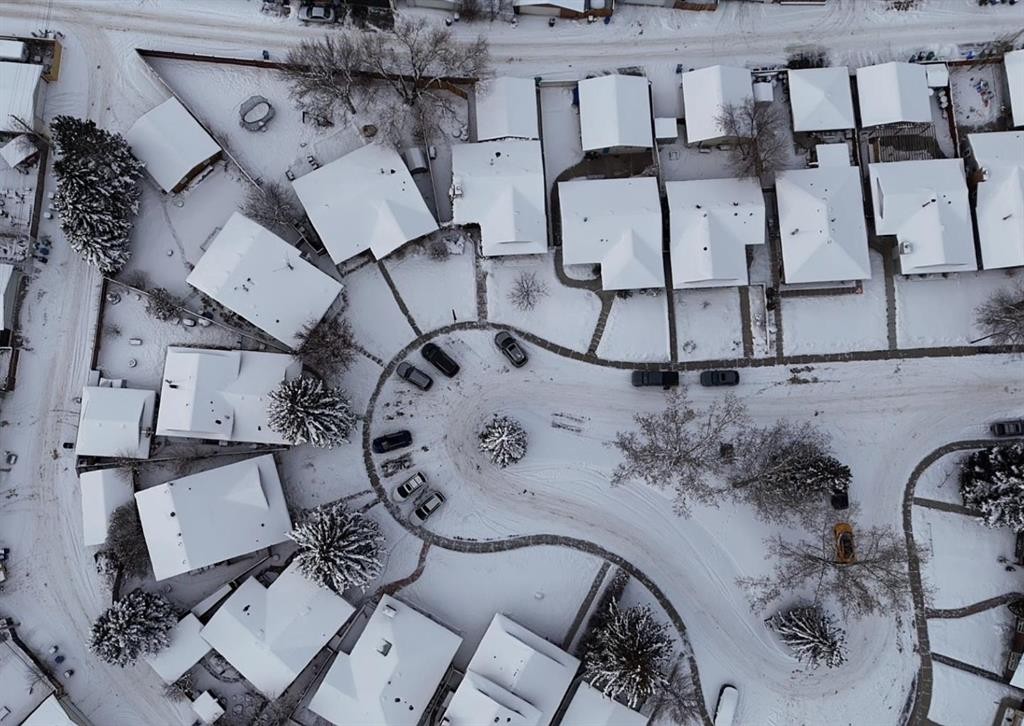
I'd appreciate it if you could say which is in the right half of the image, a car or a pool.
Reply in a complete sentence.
The one visible in the right half of the image is a car.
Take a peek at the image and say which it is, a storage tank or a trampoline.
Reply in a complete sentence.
The one in the frame is a trampoline.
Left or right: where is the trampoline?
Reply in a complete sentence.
You can find the trampoline on the left side of the picture.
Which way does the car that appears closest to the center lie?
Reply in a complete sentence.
Seen from above, the car that appears closest to the center lies on a diagonal.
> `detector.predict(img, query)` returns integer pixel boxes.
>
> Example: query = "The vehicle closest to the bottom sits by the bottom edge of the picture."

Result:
[712,685,741,726]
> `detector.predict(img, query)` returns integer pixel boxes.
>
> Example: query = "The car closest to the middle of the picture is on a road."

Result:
[495,330,528,368]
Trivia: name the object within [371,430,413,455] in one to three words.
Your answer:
car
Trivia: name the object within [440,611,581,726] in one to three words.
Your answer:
house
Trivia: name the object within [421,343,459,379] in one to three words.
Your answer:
car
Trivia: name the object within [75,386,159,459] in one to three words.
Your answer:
building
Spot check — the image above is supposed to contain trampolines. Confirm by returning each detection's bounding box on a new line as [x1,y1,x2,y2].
[237,94,274,130]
